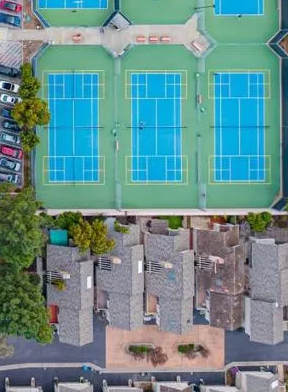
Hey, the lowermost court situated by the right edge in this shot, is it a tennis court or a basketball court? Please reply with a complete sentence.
I'd identify the lowermost court situated by the right edge as a tennis court.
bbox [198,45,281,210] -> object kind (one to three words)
tennis court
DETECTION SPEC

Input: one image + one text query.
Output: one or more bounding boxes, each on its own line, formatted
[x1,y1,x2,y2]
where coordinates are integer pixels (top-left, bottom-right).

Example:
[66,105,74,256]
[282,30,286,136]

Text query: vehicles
[0,158,21,170]
[0,13,20,25]
[0,170,19,183]
[0,119,23,131]
[0,65,19,77]
[0,81,20,93]
[0,0,22,12]
[0,106,20,118]
[0,132,20,144]
[0,93,21,104]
